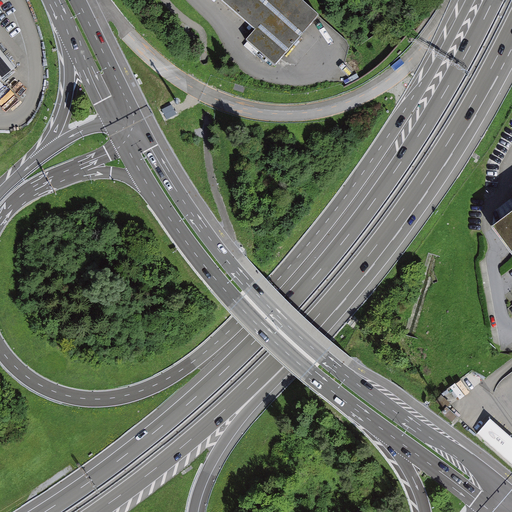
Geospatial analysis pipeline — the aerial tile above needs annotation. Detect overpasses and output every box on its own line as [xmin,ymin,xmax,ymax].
[230,273,334,382]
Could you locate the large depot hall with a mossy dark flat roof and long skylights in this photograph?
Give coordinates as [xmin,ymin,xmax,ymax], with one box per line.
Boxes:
[221,0,318,64]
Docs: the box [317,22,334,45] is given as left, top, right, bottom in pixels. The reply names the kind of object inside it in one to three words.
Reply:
vehicle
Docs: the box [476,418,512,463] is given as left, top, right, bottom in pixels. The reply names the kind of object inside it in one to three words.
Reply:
building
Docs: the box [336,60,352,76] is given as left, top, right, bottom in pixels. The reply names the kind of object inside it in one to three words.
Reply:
vehicle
